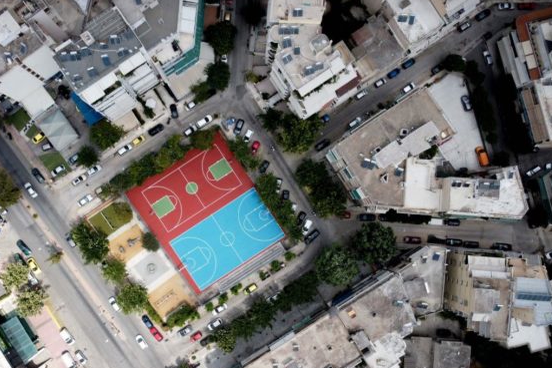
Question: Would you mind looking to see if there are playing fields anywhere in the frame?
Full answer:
Yes, the photo shows a playing field.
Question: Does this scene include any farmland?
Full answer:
No, farmland can't be seen anywhere here.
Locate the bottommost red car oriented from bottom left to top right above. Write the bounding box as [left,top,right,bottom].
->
[188,330,203,343]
